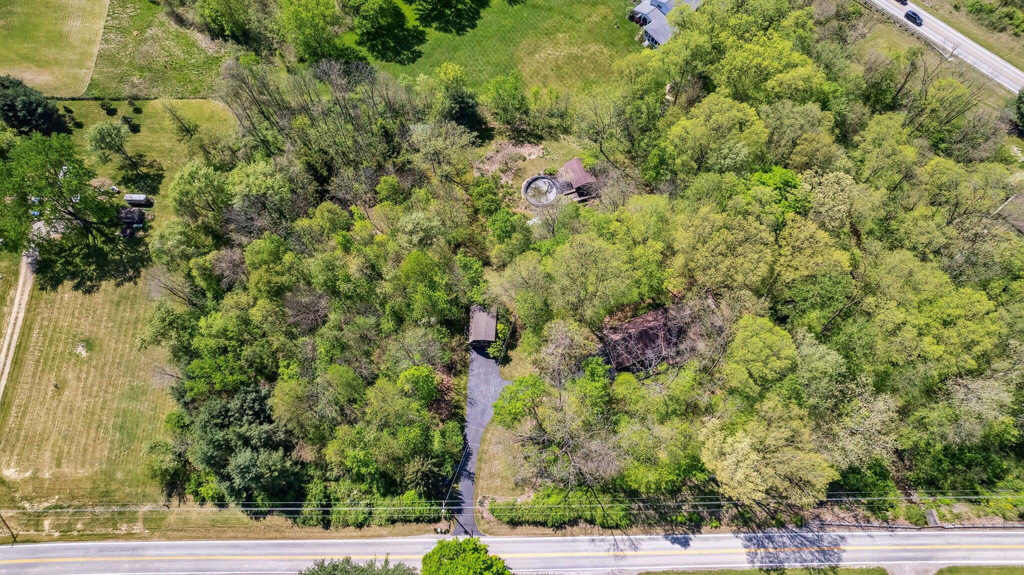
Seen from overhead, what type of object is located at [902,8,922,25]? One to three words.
car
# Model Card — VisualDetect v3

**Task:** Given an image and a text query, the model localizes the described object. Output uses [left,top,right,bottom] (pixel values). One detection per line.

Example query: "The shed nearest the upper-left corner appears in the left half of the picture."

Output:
[113,203,145,221]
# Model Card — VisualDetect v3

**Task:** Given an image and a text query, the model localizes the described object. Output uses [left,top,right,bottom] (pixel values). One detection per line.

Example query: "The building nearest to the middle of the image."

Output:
[470,302,496,345]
